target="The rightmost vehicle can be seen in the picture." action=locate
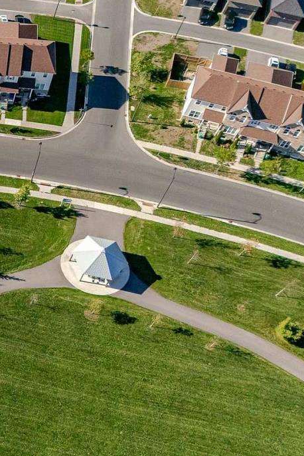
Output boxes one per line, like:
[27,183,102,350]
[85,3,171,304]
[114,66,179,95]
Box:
[283,58,296,74]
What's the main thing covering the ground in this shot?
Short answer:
grass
